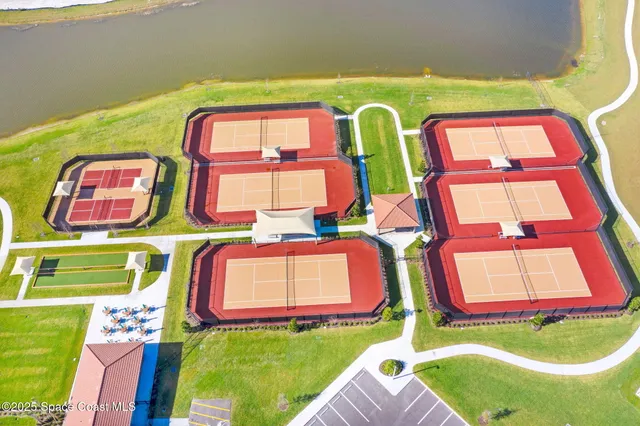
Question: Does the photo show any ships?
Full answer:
No, no ship is visible in the scene.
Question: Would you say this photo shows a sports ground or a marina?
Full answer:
The picture captures a sports ground.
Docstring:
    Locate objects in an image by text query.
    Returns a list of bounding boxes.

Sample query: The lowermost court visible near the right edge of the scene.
[423,232,627,321]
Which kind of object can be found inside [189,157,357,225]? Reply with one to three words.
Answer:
tennis court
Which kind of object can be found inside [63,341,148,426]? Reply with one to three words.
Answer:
building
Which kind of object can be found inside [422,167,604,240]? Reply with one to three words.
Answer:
tennis court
